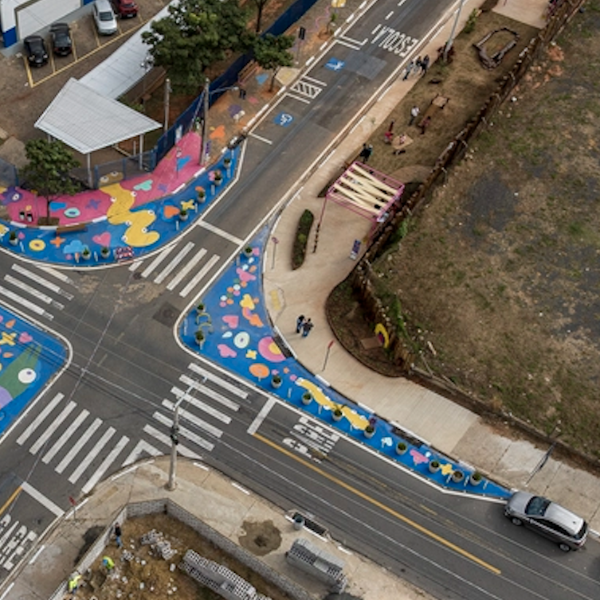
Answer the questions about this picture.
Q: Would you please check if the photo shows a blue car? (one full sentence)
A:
No, the frame has no blue car in it.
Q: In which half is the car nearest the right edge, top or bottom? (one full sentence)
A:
Seen from above, the car nearest the right edge lies in the bottom half of the view.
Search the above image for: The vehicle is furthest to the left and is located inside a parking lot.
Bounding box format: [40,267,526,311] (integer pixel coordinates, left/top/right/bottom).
[20,28,50,65]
